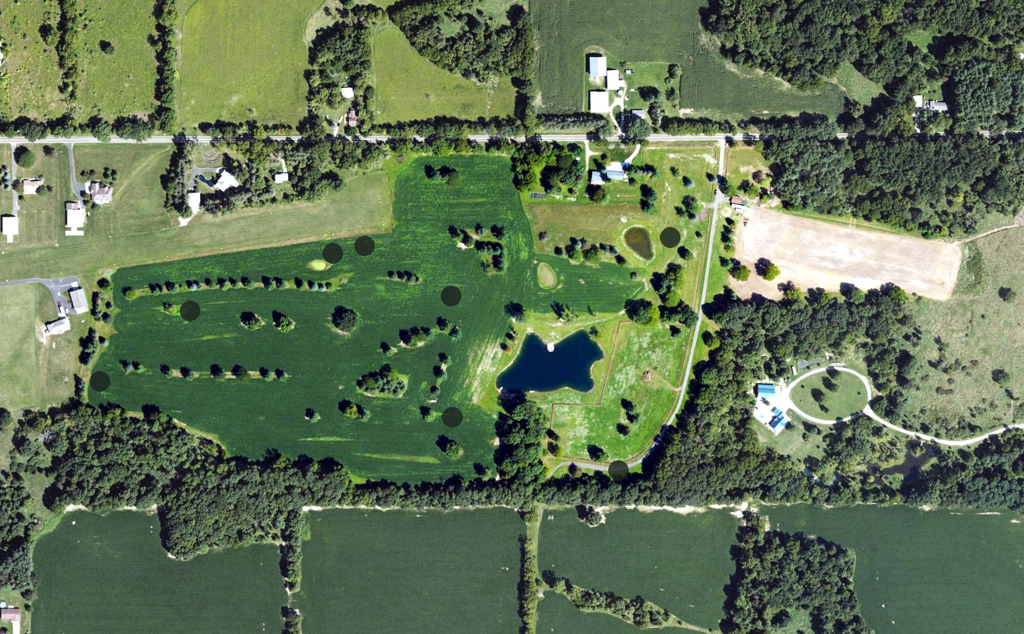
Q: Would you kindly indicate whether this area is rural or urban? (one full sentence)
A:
The area is rural.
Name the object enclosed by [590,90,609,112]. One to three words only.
barn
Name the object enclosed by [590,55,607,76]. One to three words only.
barn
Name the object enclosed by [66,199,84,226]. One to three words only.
hangar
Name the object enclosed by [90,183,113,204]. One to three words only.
house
